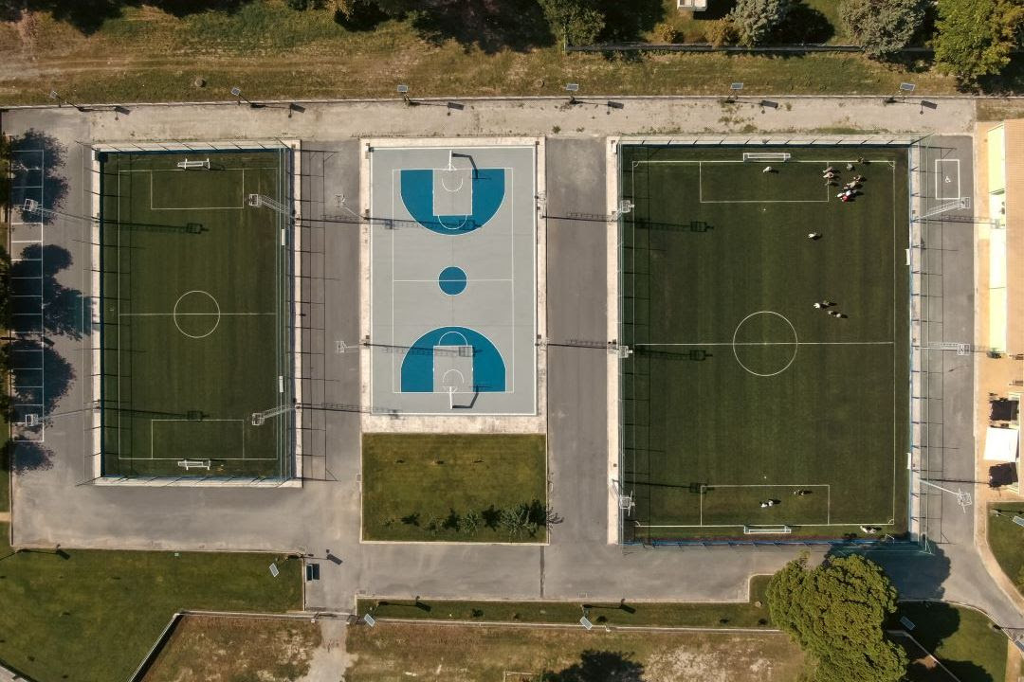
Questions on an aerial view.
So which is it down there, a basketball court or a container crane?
basketball court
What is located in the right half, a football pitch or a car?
football pitch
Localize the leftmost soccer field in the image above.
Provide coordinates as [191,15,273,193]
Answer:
[92,142,301,486]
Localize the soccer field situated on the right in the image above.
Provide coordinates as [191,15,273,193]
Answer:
[607,134,921,545]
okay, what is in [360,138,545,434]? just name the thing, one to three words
basketball court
